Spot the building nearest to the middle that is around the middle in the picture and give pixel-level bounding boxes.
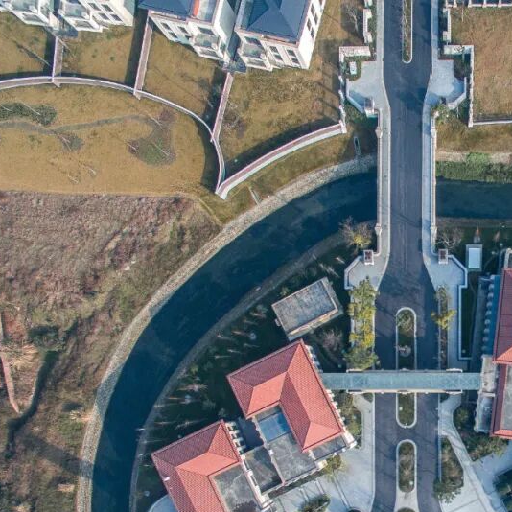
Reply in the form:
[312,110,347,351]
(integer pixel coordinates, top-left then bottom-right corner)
[272,278,340,335]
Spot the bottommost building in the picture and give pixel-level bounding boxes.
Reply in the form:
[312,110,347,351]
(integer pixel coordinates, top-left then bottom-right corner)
[151,420,284,512]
